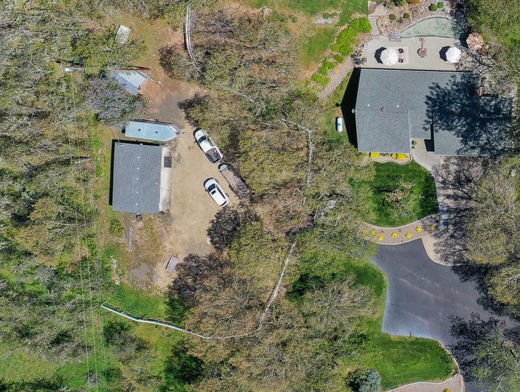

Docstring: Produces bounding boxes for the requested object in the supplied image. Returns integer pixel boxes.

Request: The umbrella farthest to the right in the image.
[446,48,461,63]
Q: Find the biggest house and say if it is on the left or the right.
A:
right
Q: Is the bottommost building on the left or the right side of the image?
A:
left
